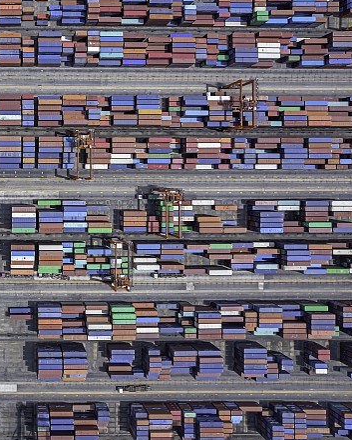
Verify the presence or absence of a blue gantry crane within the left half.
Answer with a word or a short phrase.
No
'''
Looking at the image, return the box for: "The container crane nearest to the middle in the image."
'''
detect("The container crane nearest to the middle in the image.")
[149,187,183,239]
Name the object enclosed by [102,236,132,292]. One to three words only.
container crane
